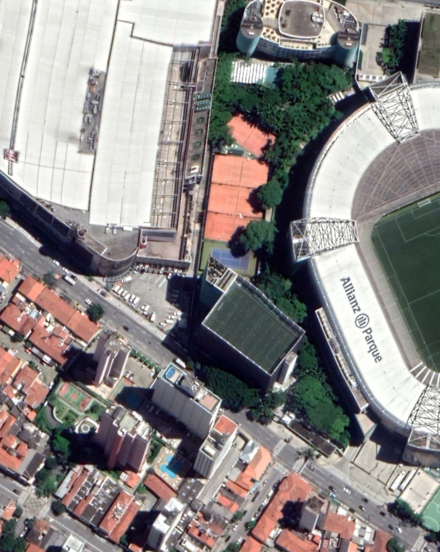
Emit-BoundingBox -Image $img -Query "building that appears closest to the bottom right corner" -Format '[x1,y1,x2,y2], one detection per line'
[368,529,393,552]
